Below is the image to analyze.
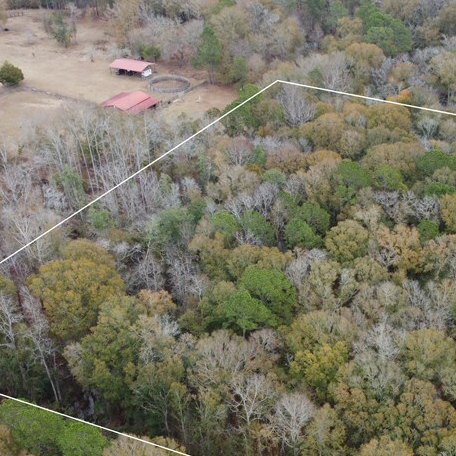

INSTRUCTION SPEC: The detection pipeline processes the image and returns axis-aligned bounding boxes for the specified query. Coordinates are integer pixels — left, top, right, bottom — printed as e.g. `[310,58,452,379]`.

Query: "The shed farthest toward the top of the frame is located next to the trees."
[110,56,156,79]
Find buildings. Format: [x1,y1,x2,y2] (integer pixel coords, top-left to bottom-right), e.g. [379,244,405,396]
[97,90,162,125]
[110,56,156,79]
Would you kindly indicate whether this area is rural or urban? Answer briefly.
rural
